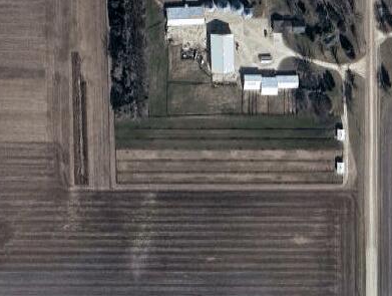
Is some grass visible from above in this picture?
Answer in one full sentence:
Yes, there's grass in this view.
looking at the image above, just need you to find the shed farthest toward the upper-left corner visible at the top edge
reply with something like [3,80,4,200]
[166,7,204,26]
